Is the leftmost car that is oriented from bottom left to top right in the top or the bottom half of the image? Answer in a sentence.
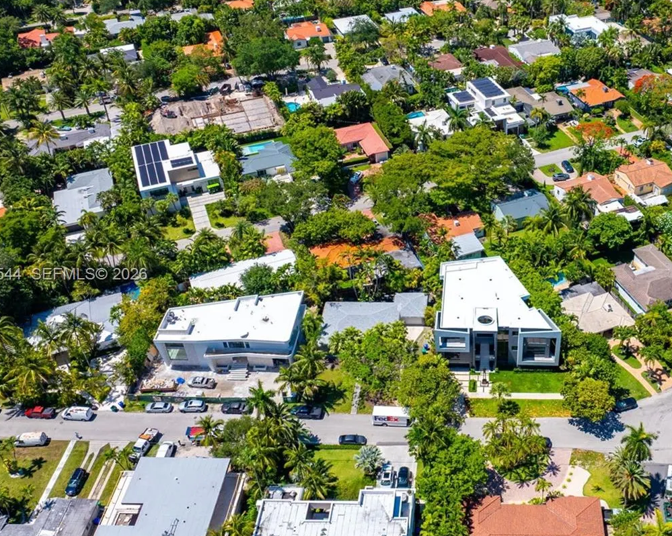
The leftmost car that is oriented from bottom left to top right sits in the bottom half of the picture.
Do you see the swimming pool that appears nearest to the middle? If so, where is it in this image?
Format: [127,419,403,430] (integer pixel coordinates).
[242,139,278,153]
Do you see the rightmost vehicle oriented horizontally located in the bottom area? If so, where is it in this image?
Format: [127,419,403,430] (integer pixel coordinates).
[612,397,640,412]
